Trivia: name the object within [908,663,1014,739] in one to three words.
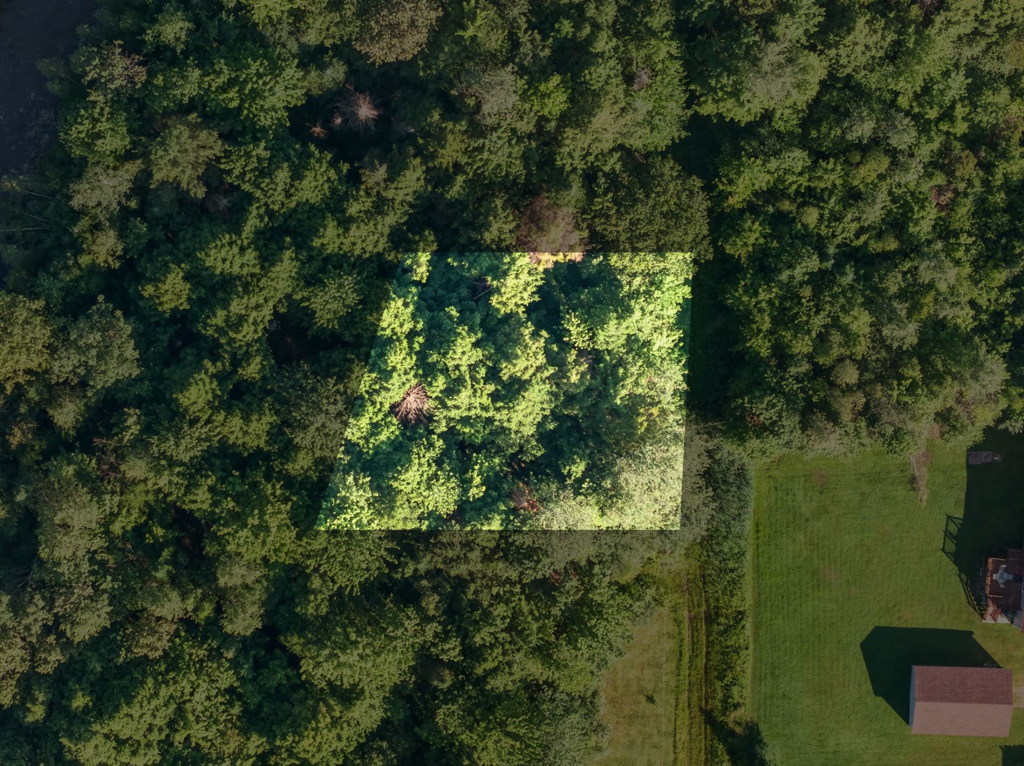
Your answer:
building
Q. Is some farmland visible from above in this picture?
No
